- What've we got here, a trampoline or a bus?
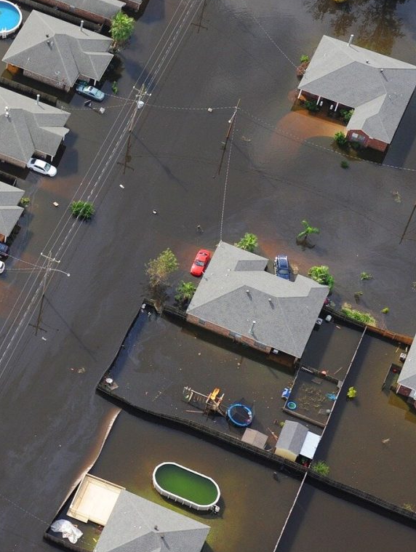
trampoline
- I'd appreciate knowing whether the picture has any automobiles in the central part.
Yes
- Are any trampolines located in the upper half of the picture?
No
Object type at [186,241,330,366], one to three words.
house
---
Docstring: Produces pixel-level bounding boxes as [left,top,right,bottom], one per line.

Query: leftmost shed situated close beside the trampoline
[242,428,267,452]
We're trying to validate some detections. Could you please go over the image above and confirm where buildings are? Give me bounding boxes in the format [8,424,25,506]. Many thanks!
[393,335,416,409]
[0,86,70,170]
[296,34,416,154]
[242,428,267,452]
[274,420,308,463]
[92,488,210,552]
[0,182,25,243]
[40,0,143,32]
[186,241,330,366]
[2,9,115,98]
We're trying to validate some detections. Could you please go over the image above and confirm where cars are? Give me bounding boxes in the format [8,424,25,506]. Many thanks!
[74,85,106,102]
[0,242,13,259]
[191,250,210,277]
[25,159,58,178]
[275,253,292,279]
